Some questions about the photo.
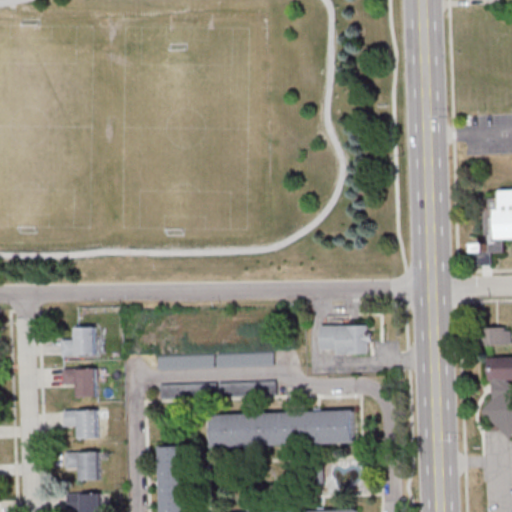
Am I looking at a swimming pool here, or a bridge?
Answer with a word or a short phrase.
swimming pool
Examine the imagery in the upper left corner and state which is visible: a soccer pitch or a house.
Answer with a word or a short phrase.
soccer pitch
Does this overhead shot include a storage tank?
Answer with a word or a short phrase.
No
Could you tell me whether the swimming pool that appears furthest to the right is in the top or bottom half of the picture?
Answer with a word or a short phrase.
bottom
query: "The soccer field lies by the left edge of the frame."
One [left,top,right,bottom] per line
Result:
[0,24,94,230]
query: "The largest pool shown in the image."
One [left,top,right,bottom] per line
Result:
[333,466,362,492]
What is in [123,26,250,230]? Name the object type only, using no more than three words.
soccer field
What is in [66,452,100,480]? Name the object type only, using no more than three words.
house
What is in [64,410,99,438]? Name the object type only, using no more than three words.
house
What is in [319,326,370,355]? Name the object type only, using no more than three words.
building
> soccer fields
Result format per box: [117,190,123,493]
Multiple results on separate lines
[0,24,94,230]
[123,26,250,230]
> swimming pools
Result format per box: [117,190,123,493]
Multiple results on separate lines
[103,388,114,398]
[333,466,362,492]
